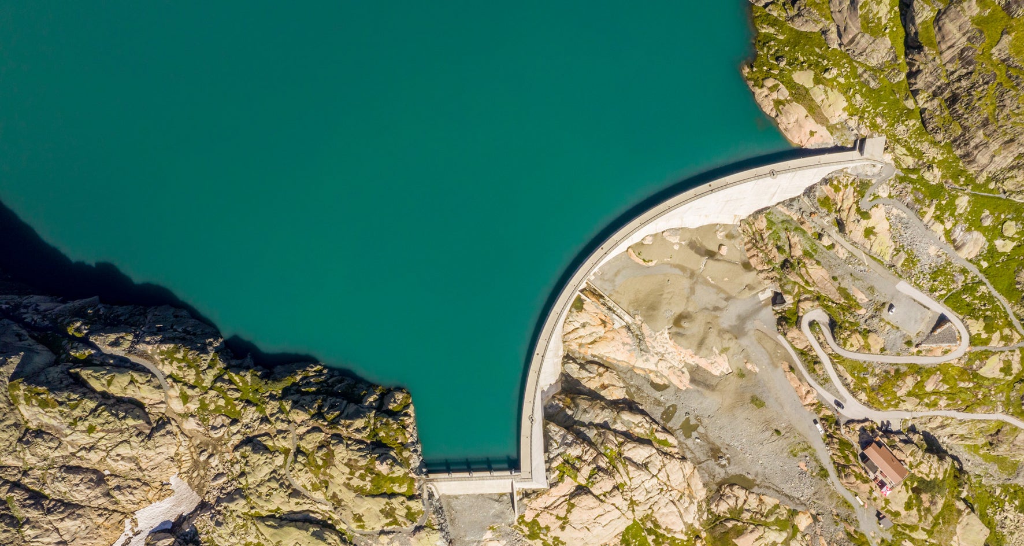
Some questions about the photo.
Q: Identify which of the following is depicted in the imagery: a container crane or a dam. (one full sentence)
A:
The one in the frame is a dam.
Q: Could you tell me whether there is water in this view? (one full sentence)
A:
Yes, there is water in the image.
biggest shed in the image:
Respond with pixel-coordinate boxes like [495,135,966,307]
[864,437,909,491]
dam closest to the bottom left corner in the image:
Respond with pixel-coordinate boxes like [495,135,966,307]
[427,469,521,495]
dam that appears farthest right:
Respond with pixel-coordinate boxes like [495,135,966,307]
[514,150,867,487]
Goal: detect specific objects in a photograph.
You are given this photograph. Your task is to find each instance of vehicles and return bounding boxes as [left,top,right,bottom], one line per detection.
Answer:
[886,421,893,432]
[815,423,826,434]
[880,421,887,432]
[889,305,897,315]
[834,400,845,410]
